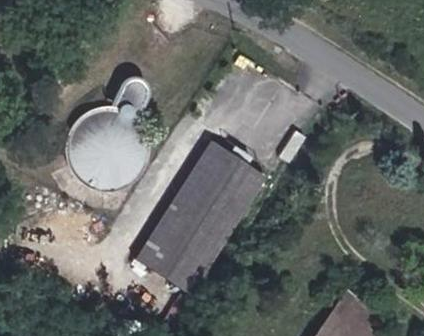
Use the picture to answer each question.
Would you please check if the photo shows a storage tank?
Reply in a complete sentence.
Yes, there's a storage tank down there.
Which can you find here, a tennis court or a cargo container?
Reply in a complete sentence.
This aerial view contains a cargo container.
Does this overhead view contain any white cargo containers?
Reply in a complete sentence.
Yes, there's a white cargo container here.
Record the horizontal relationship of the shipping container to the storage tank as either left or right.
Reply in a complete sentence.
The storage tank has the shipping container on its right side.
